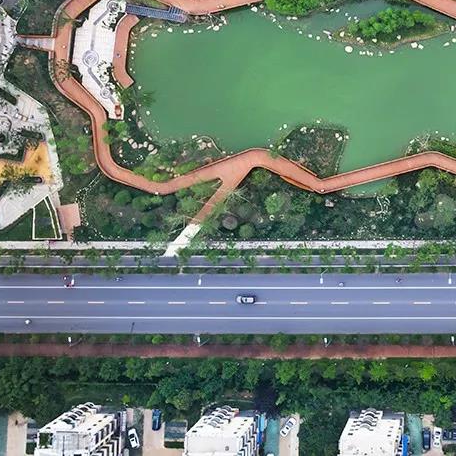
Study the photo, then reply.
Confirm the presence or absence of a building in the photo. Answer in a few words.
Yes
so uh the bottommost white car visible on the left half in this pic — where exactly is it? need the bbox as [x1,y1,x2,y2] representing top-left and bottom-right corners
[128,427,142,448]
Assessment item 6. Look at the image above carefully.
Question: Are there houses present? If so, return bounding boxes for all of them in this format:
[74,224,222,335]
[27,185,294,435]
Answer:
[184,407,261,456]
[37,403,122,456]
[339,409,406,456]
